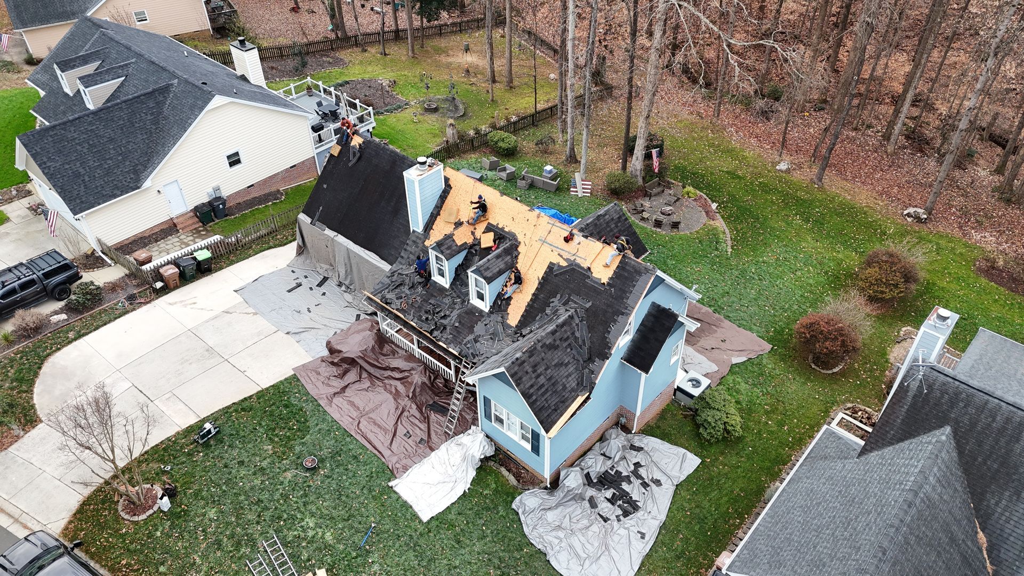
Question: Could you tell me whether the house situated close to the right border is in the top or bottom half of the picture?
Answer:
bottom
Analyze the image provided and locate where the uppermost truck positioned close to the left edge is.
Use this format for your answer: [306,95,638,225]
[0,241,88,322]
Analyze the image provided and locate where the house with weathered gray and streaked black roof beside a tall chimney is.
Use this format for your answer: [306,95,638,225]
[710,300,1024,576]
